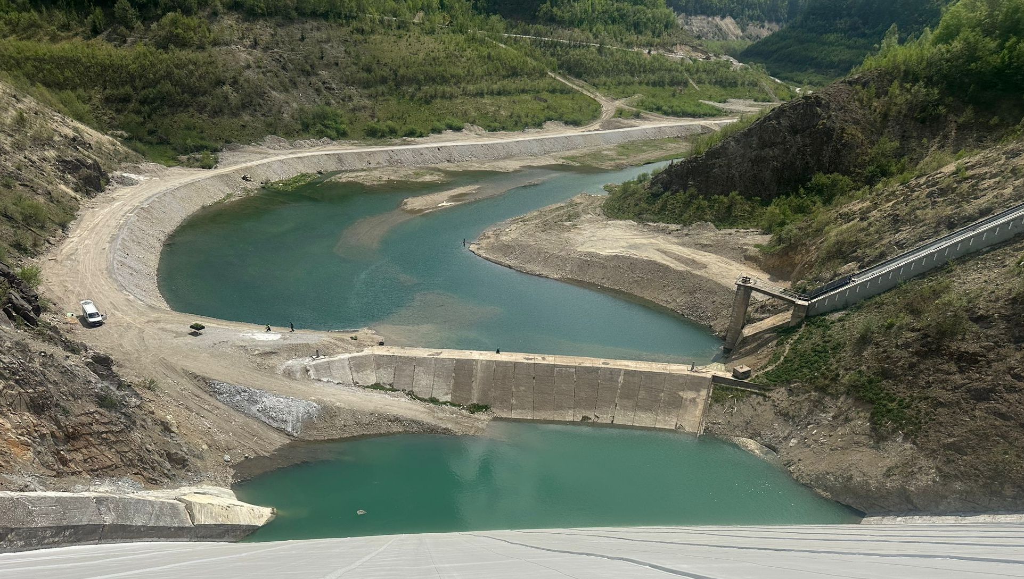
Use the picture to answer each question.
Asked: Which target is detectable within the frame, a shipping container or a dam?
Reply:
dam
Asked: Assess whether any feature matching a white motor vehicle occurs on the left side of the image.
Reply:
Yes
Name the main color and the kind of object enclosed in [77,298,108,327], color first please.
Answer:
white van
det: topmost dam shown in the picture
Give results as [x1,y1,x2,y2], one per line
[311,346,713,435]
